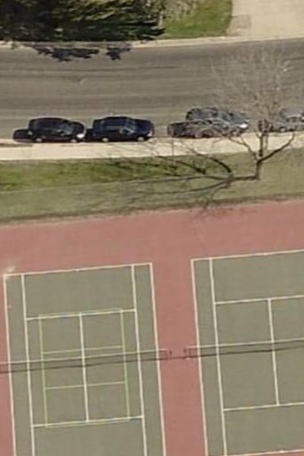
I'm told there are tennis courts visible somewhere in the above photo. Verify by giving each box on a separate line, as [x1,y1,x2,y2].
[0,210,183,456]
[165,198,304,456]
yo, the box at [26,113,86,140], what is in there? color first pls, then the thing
black car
